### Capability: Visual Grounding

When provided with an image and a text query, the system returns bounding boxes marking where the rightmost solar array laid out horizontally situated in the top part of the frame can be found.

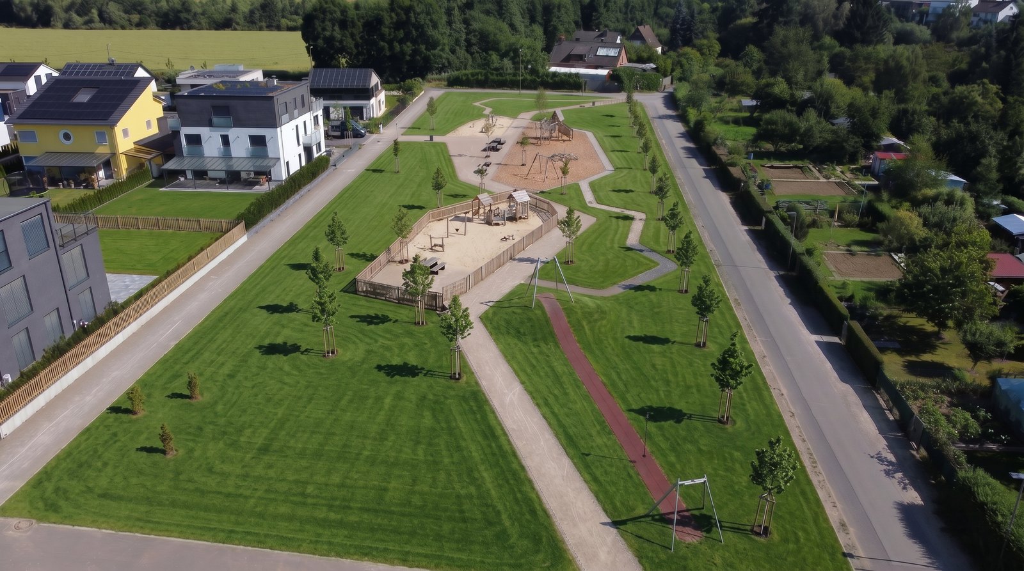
[310,66,369,87]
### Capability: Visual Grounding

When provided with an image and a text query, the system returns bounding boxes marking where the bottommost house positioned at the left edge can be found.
[0,195,113,385]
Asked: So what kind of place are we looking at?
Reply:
residential area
